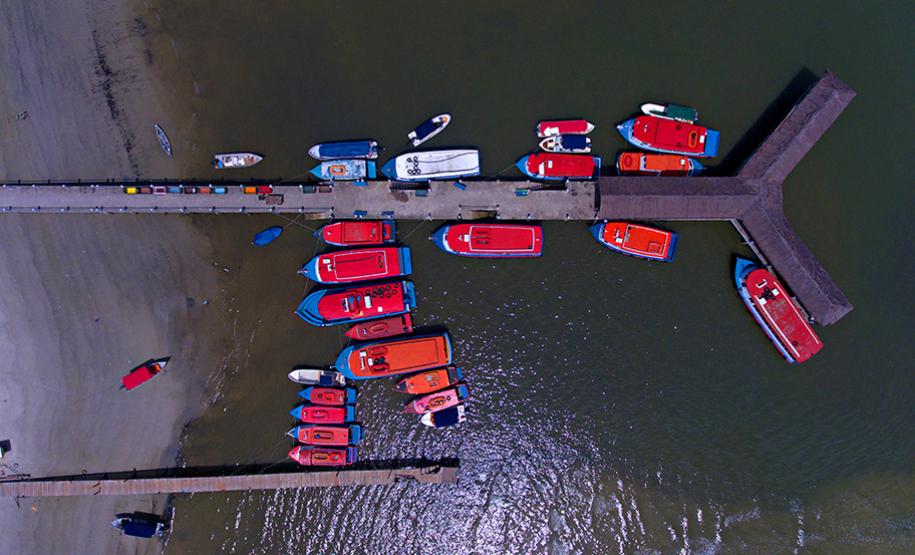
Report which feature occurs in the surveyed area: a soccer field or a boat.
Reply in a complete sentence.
This aerial view contains a boat.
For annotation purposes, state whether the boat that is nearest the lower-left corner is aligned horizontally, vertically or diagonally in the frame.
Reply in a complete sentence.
From this overhead view, the boat that is nearest the lower-left corner appears to run horizontally.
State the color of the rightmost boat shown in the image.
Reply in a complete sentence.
From above, the rightmost boat appears red.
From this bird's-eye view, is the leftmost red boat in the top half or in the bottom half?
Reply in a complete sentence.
You can find the leftmost red boat in the bottom half.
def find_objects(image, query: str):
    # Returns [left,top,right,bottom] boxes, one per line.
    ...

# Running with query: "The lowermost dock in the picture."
[0,464,459,497]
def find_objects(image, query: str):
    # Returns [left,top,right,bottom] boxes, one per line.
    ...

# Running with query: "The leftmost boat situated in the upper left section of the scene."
[153,123,172,156]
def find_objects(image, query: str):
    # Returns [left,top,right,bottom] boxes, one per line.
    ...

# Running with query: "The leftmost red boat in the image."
[120,357,172,390]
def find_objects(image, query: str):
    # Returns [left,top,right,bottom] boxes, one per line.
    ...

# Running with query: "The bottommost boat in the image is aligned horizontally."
[110,517,167,542]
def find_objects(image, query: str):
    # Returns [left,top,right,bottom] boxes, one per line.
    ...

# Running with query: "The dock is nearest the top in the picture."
[0,181,812,319]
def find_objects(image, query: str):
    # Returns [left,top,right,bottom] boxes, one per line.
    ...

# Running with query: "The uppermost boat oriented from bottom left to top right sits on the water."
[409,116,450,147]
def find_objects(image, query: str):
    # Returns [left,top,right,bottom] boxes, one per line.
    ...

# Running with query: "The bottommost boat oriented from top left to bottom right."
[734,257,819,362]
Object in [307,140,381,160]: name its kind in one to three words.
boat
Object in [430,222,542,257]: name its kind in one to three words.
boat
